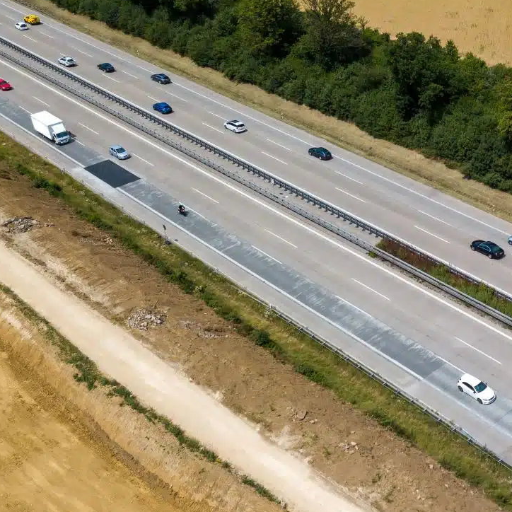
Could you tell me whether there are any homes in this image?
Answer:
No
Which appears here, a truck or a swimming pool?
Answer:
truck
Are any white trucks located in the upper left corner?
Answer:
Yes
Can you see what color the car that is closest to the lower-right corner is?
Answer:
white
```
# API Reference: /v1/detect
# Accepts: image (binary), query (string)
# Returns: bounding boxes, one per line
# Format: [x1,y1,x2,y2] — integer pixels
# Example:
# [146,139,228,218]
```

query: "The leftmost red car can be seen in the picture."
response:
[0,79,12,92]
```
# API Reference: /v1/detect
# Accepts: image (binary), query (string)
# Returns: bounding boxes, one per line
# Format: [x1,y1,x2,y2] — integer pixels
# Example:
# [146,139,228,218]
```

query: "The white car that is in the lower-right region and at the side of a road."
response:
[456,376,495,406]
